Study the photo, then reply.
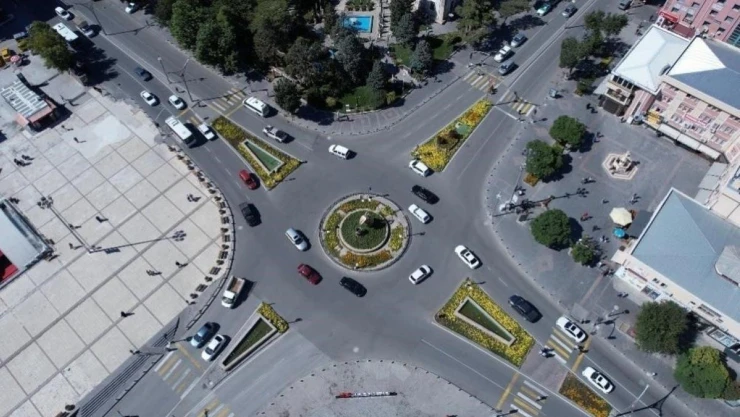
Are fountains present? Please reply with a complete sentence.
Yes, you can see a fountain in this photo.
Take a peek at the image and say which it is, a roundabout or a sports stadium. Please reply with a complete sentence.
Looking from above, you can make out a roundabout.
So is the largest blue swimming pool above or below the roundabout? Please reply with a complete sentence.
In the image, the largest blue swimming pool appears above the roundabout.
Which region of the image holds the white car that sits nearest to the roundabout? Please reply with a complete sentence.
Look in the center portion of the view to spot the white car that sits nearest to the roundabout.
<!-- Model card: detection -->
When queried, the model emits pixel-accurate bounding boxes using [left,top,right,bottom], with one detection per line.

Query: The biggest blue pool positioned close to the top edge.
[338,12,374,33]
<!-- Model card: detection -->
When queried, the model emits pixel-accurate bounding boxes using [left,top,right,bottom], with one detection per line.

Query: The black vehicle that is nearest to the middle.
[410,184,440,205]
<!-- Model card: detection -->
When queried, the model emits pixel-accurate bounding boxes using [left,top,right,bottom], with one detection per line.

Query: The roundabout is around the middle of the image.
[319,193,411,272]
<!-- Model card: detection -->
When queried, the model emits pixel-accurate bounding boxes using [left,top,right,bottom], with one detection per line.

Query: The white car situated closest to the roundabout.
[408,204,434,225]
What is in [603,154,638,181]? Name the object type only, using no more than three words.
fountain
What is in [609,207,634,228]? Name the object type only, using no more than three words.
umbrella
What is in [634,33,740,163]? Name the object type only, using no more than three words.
building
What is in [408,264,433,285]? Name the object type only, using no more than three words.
car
